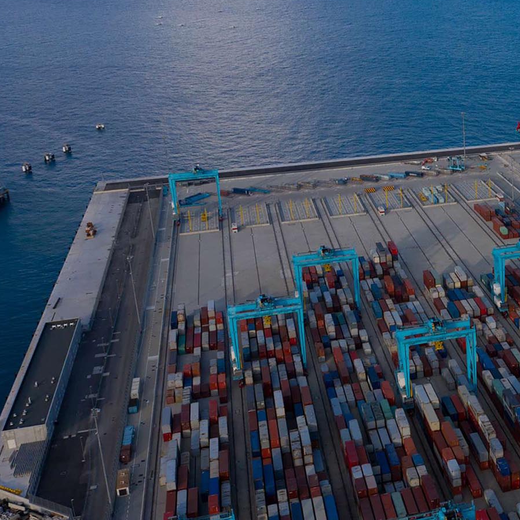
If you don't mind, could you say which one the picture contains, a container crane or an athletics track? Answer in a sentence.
Of the two, only a container crane appears.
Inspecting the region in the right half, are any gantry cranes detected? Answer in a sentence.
Yes, a gantry crane appears in the right half.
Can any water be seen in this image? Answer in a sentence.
Yes, water can be seen from above here.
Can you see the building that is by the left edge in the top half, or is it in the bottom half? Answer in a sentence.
The bottom half of the photo is where the building that is by the left edge is.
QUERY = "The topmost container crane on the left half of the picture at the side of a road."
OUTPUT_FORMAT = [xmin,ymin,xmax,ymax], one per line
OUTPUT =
[169,162,222,226]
